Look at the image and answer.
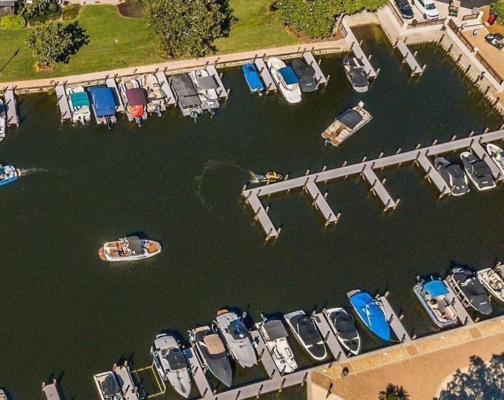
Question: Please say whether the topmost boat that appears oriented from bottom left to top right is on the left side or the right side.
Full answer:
The topmost boat that appears oriented from bottom left to top right sits on the right side.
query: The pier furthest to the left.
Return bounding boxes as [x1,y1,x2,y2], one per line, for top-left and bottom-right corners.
[3,87,20,129]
